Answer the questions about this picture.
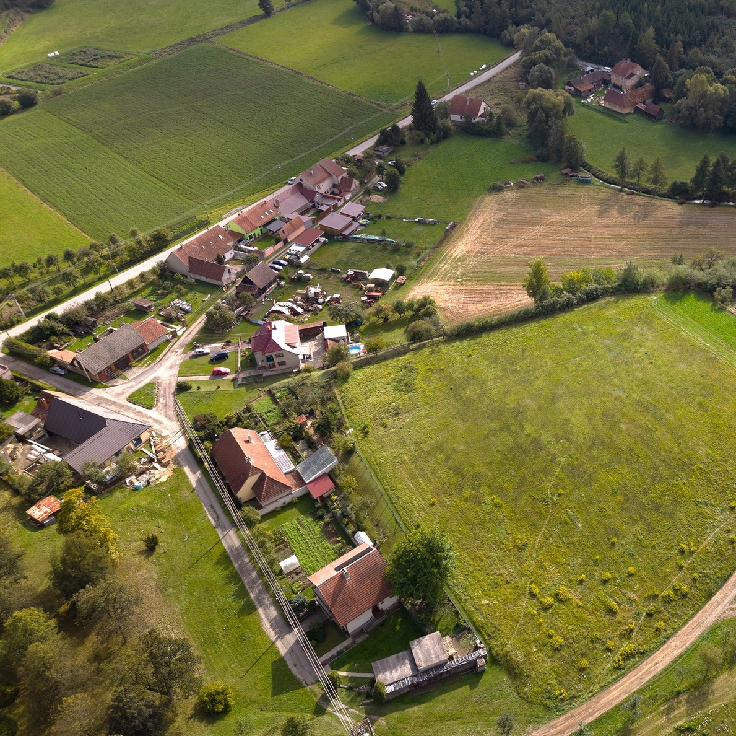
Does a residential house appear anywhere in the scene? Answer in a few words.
Yes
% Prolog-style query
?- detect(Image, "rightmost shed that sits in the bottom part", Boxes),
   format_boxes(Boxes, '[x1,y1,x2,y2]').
[410,632,448,673]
